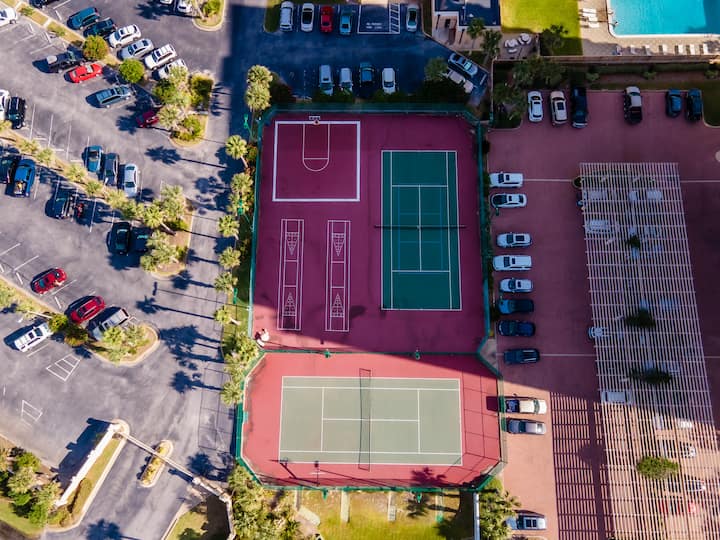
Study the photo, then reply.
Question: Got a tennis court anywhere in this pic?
Yes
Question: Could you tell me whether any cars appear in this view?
Yes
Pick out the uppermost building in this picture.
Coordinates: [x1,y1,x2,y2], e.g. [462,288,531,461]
[434,0,503,44]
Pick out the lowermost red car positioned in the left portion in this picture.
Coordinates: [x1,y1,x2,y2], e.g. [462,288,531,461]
[70,296,106,323]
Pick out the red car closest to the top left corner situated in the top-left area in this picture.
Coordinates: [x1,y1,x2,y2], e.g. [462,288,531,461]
[70,63,103,84]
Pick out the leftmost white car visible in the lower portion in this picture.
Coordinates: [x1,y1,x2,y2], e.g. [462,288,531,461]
[13,321,55,352]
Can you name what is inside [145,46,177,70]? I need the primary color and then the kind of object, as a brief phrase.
white car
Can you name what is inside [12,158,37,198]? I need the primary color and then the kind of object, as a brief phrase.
blue truck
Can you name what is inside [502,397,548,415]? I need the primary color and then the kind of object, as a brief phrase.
white vehicle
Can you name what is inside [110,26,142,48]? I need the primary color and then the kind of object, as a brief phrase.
white car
